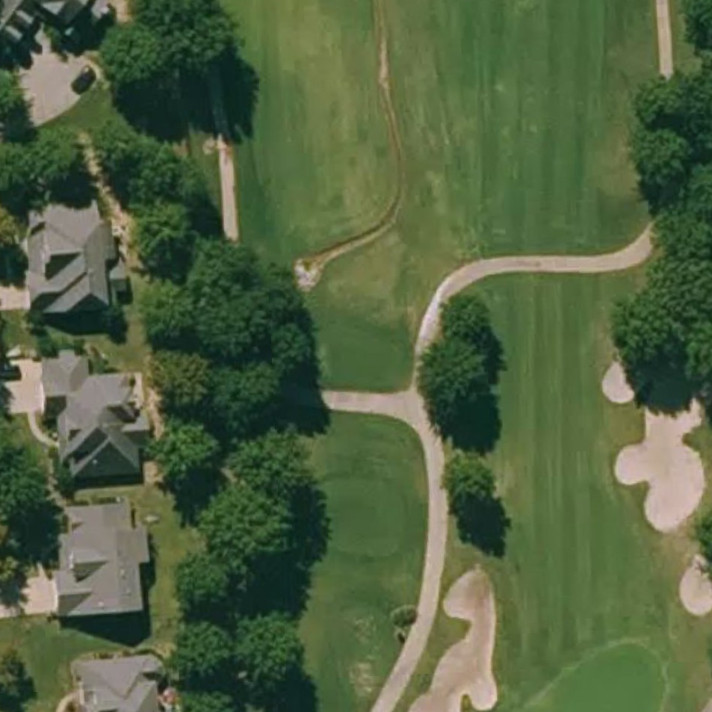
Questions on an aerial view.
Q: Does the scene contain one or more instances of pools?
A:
No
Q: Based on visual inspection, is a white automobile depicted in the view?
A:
No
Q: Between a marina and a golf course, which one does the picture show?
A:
golf course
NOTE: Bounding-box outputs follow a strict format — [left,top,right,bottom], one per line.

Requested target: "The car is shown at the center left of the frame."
[0,365,23,378]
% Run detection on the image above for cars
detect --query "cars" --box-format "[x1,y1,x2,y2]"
[70,67,96,95]
[0,365,23,378]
